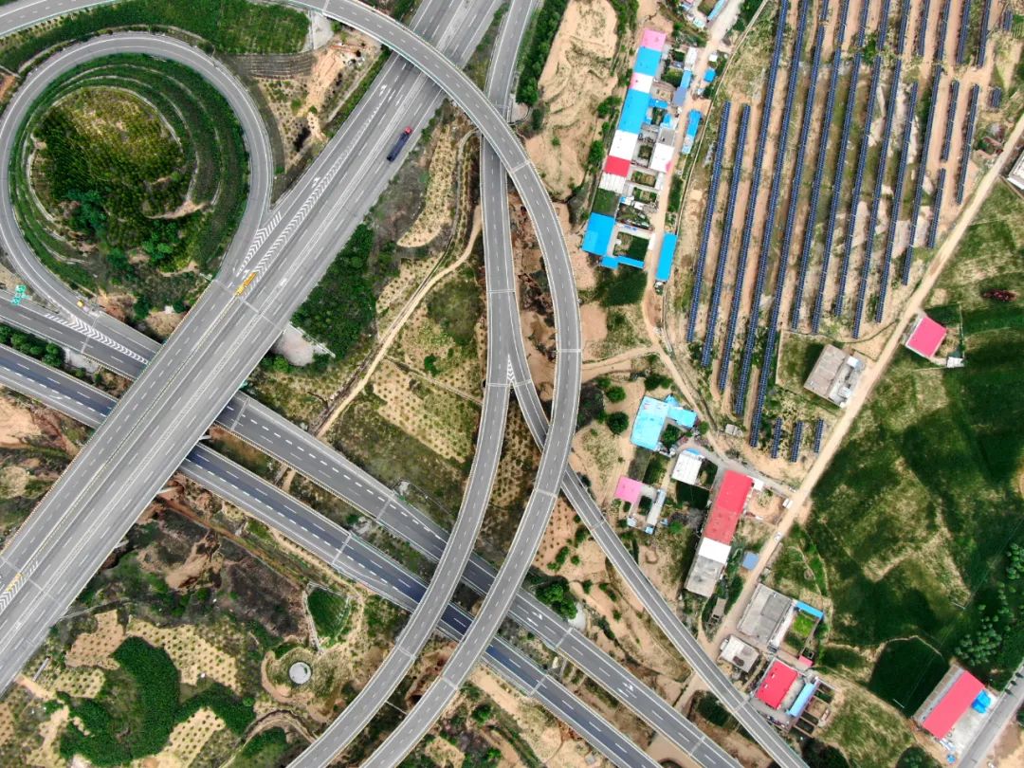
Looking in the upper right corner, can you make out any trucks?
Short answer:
No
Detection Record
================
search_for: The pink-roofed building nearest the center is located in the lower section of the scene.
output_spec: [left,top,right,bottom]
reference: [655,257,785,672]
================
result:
[614,476,643,503]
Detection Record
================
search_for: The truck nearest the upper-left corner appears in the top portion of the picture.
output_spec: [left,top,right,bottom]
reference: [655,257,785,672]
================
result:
[385,124,414,161]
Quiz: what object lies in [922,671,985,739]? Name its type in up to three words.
building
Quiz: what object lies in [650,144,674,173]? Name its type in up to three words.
house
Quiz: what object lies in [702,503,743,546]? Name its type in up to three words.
building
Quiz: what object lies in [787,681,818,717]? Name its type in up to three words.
shed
